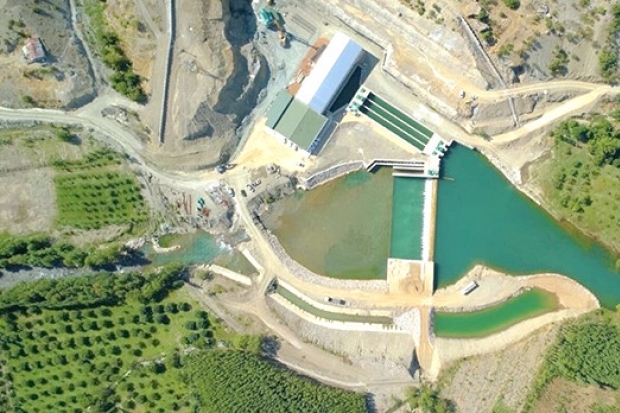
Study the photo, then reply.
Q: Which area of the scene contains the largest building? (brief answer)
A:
top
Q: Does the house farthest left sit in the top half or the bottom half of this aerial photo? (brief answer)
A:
top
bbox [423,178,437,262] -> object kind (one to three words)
dam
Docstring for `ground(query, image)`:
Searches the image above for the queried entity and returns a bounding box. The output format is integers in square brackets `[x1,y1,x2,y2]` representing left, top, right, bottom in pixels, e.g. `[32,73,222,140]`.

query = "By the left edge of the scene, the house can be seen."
[27,36,51,65]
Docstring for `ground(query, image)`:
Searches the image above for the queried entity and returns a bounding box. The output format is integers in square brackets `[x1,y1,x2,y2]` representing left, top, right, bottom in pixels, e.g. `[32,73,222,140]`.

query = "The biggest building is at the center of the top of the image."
[275,33,363,154]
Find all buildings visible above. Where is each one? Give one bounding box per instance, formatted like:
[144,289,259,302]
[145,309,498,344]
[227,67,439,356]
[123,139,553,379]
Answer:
[275,33,363,154]
[27,36,51,65]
